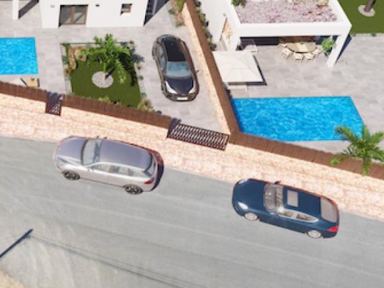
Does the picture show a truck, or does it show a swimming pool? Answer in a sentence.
Of the two, only a swimming pool appears.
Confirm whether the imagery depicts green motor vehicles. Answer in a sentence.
No, the picture doesn't show any green motor vehicle.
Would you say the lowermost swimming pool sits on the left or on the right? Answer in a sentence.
You can find the lowermost swimming pool on the right side of the picture.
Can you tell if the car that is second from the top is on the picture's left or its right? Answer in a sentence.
You can find the car that is second from the top on the left side of the picture.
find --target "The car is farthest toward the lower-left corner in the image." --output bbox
[55,134,158,197]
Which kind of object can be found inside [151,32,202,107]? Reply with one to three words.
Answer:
car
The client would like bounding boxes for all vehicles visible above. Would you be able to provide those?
[55,134,158,197]
[151,32,202,107]
[229,170,344,239]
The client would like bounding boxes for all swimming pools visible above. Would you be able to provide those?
[0,34,45,79]
[226,92,371,146]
